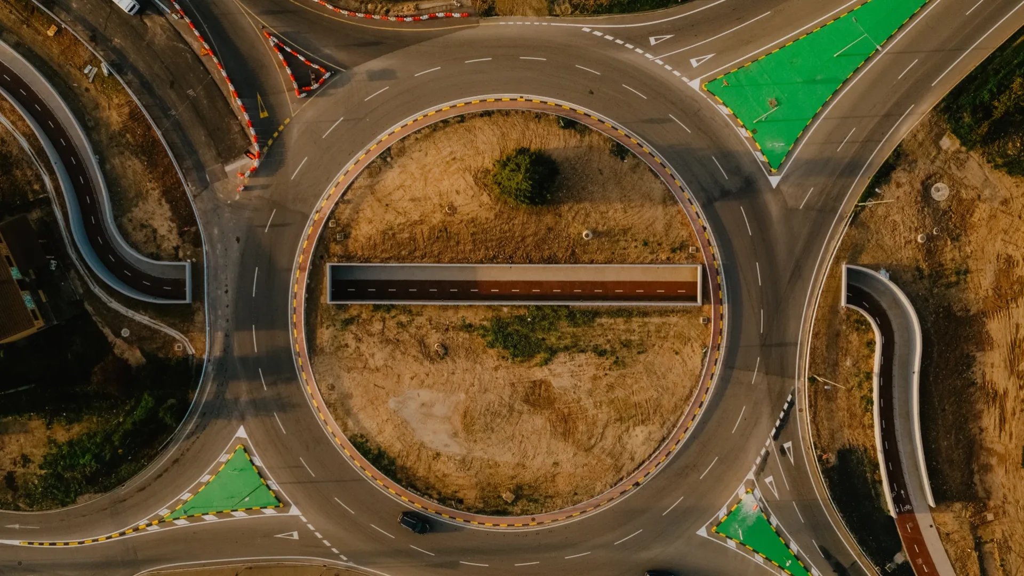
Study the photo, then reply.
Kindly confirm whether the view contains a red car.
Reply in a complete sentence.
No, no red car is visible in the scene.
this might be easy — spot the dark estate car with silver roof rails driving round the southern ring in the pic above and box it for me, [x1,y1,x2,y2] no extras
[397,510,430,534]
